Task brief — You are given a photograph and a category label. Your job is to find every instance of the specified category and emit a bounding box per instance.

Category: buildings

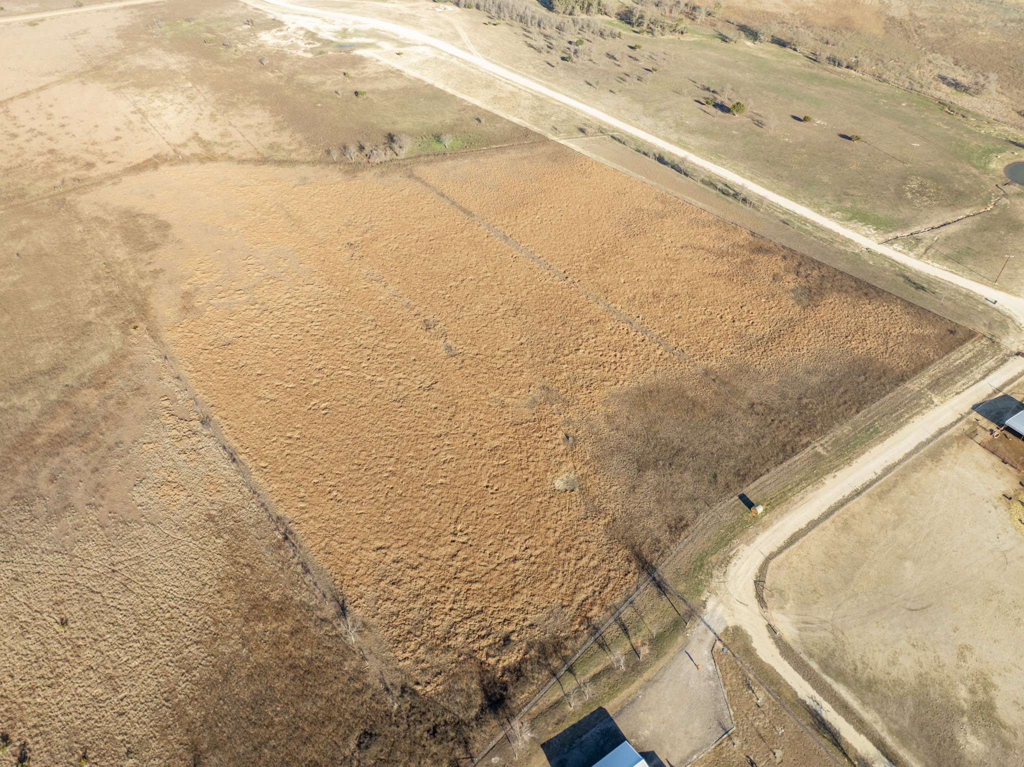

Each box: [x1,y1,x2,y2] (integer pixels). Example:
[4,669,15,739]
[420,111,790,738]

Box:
[1000,413,1024,433]
[587,738,650,767]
